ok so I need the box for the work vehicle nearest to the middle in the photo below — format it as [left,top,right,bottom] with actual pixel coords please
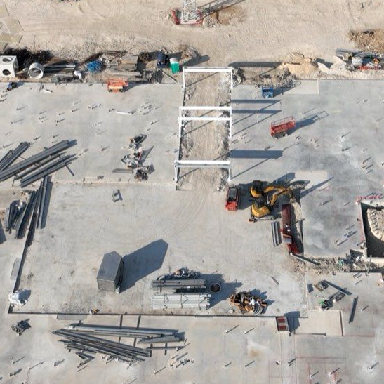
[223,185,239,212]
